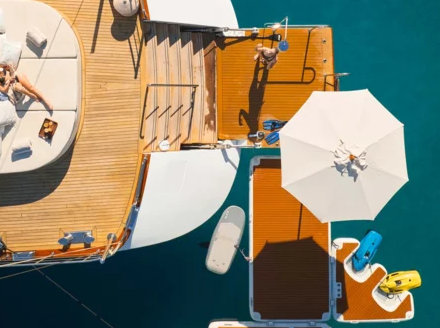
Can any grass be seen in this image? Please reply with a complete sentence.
No, the picture contains no grass.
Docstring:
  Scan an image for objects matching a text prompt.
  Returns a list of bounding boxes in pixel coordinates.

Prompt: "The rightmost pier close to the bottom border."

[332,238,413,322]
